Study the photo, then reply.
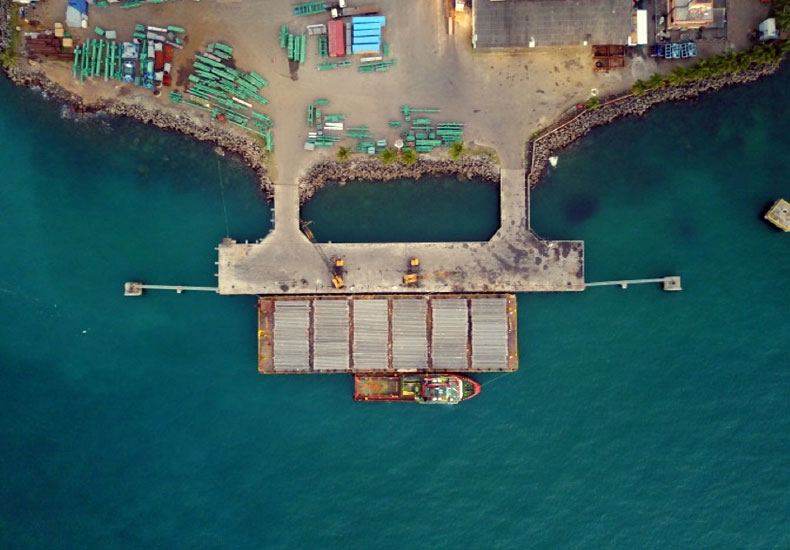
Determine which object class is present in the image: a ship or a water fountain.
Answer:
ship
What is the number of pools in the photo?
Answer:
none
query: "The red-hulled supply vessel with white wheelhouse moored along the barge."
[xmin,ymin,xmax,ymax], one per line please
[354,373,481,405]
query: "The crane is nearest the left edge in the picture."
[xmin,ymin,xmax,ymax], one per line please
[302,223,349,291]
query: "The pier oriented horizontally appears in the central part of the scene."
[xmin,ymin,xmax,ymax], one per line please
[214,168,585,294]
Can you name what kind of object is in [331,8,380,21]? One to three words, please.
vehicle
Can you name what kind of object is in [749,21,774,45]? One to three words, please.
truck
